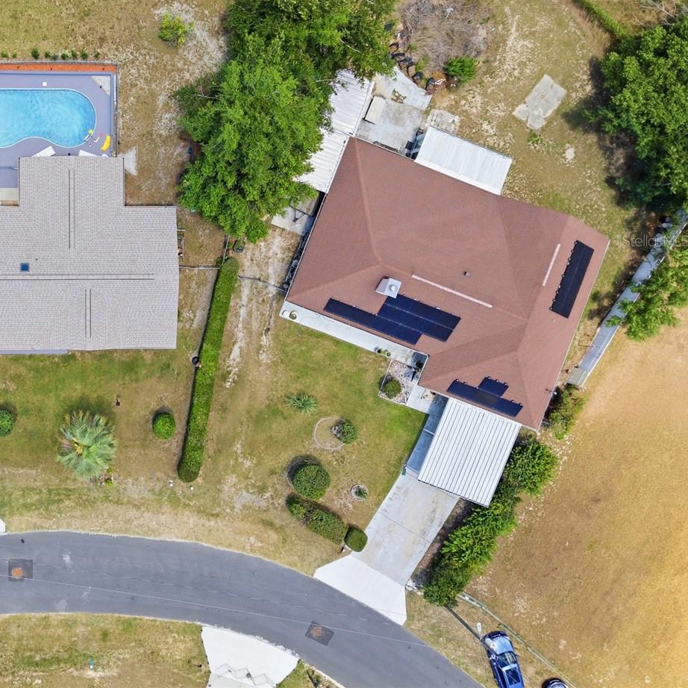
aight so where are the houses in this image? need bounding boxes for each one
[0,155,178,353]
[285,138,610,431]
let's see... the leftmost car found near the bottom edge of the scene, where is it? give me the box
[489,630,534,688]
